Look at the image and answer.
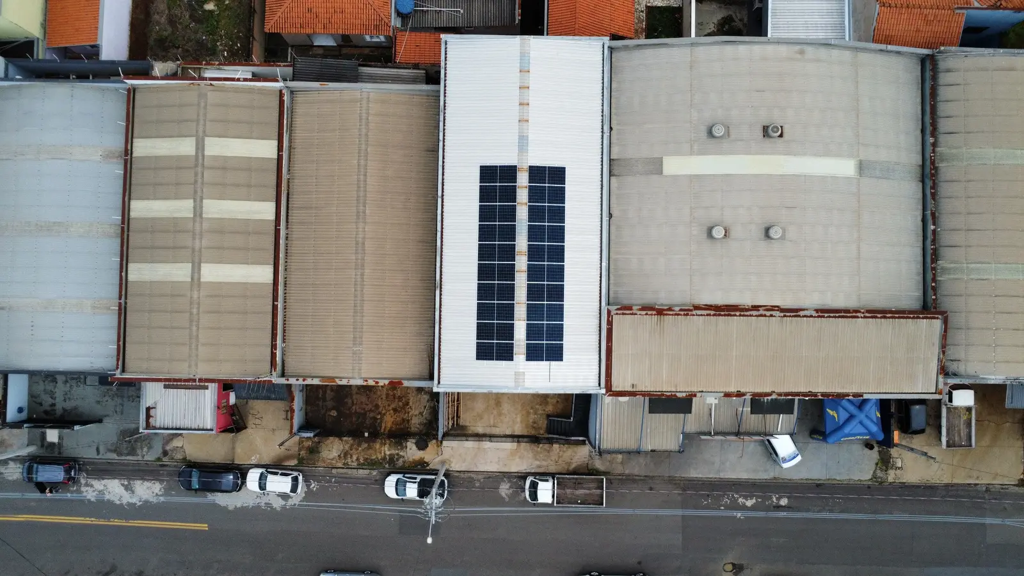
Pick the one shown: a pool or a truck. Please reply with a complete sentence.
It is a truck that can be seen here.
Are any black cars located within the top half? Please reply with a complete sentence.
No, the scene shows no black car within the top half.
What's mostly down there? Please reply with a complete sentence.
The scene is dominated by buildings.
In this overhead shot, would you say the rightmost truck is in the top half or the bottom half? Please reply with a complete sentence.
The rightmost truck is in the bottom half of the image.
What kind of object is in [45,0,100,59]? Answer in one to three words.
house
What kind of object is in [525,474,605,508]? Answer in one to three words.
truck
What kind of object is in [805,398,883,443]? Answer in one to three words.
tent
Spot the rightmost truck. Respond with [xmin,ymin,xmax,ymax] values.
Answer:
[936,380,976,450]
